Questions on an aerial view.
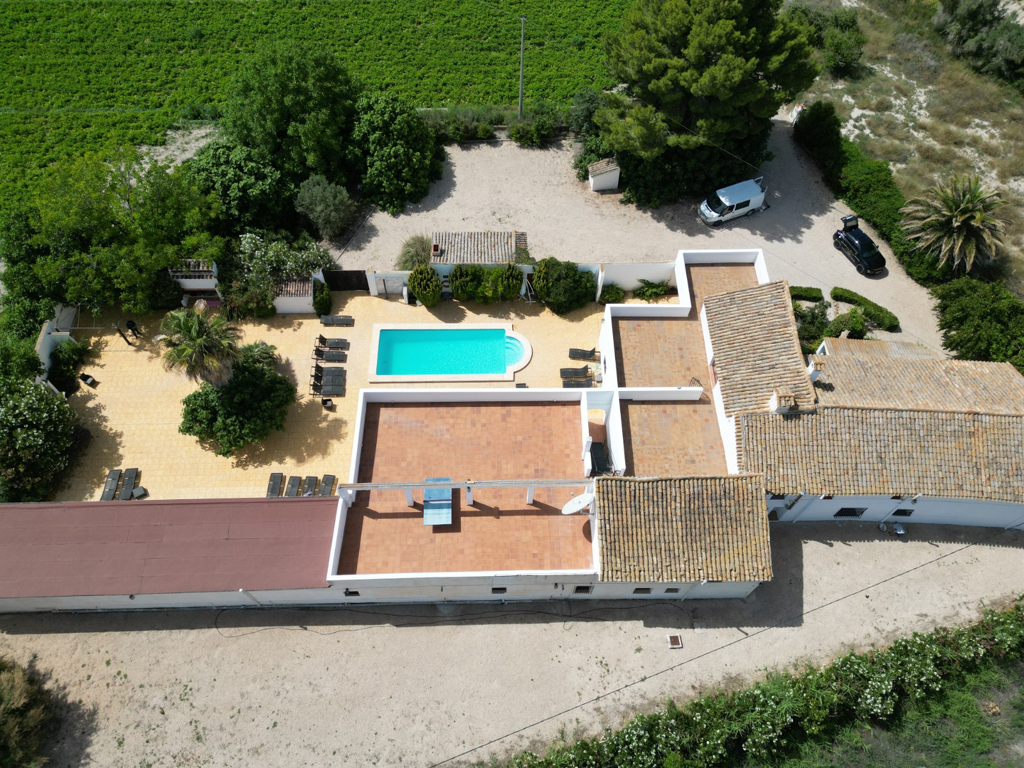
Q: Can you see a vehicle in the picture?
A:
Yes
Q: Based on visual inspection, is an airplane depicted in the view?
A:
No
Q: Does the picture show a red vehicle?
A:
No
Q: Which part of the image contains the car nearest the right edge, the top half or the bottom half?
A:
top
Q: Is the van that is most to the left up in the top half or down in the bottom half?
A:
top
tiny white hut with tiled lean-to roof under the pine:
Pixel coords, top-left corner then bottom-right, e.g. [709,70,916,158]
[586,155,623,194]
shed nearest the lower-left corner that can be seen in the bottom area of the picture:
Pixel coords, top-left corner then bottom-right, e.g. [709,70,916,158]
[0,496,340,615]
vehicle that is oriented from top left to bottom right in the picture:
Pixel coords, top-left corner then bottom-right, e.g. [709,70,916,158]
[834,210,890,278]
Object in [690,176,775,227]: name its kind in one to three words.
van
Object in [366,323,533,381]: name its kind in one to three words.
swimming pool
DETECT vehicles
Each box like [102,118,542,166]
[690,176,775,227]
[834,210,890,278]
